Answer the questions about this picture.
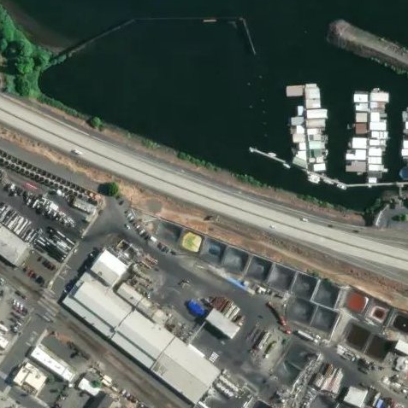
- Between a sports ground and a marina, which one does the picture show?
marina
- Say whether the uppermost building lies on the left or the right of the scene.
left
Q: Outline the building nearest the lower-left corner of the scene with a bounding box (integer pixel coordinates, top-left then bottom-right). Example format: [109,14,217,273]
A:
[13,363,45,392]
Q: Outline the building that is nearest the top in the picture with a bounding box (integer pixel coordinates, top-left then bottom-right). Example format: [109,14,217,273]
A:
[0,227,28,267]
